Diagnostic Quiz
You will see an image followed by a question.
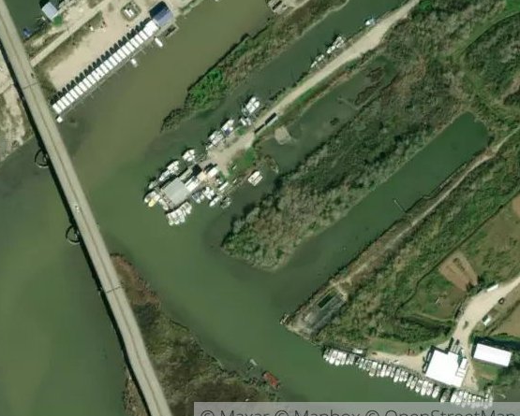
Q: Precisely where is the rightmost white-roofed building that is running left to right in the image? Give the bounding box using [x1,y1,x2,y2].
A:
[473,345,511,368]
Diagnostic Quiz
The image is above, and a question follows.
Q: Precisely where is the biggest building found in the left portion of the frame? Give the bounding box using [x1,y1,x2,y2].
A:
[160,177,191,206]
